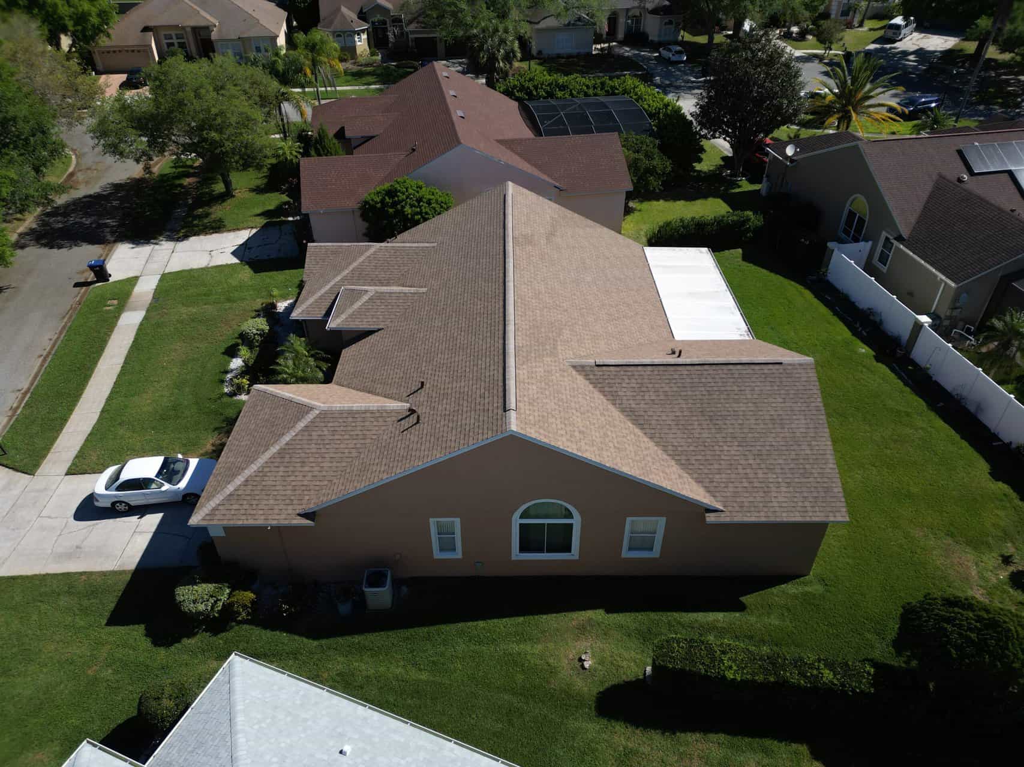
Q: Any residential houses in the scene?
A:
Yes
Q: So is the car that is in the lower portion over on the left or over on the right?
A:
left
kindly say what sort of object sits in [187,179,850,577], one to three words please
house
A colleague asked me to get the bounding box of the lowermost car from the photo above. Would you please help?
[89,446,222,507]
